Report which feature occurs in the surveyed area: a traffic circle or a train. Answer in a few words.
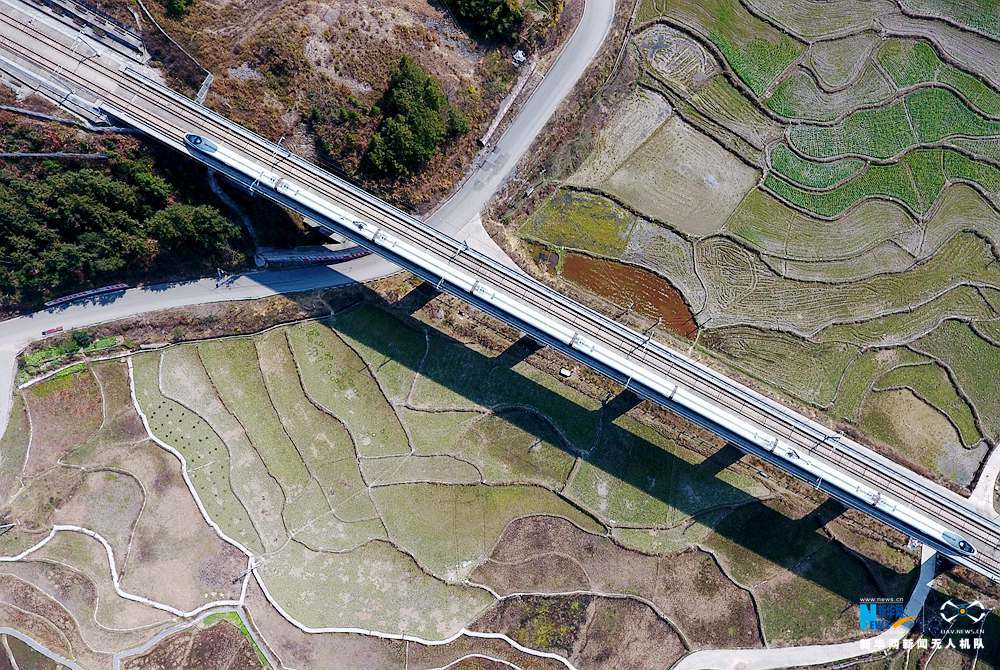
train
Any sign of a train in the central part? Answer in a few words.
Yes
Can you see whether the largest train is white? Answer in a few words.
Yes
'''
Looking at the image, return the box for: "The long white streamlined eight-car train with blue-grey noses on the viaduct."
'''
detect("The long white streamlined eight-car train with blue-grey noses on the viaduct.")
[184,134,973,554]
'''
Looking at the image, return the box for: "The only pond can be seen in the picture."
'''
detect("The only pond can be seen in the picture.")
[558,248,698,336]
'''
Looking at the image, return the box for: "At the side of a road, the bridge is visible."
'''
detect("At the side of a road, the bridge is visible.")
[94,60,1000,586]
